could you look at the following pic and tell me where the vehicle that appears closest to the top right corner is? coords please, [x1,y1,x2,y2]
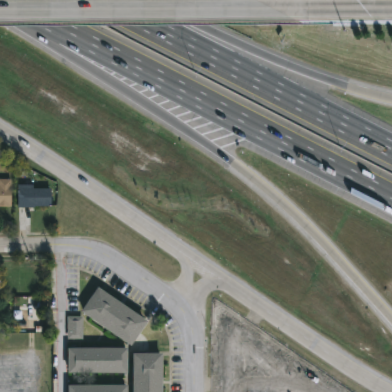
[360,138,387,154]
